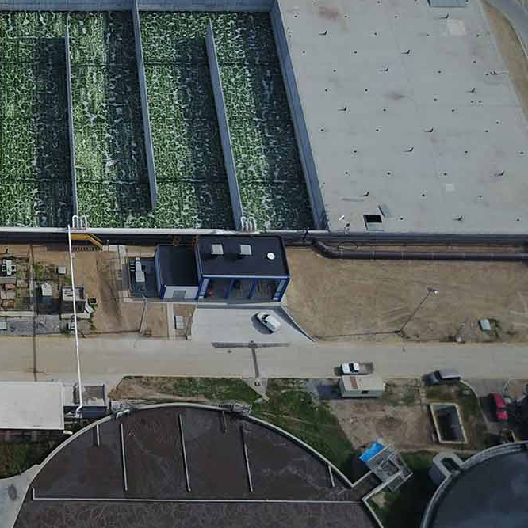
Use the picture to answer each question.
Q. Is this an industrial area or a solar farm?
industrial area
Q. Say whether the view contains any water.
Yes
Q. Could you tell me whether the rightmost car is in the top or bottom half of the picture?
bottom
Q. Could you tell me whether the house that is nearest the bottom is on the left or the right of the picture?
right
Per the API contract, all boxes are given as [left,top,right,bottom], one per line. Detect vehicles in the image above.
[426,367,463,384]
[256,309,283,332]
[339,360,374,374]
[487,392,508,420]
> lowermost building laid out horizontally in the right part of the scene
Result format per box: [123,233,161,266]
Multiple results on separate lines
[335,374,386,397]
